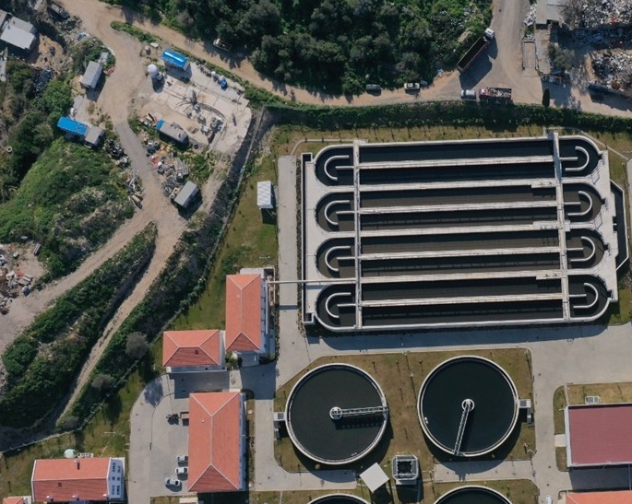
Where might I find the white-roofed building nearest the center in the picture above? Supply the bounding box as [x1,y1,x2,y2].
[257,180,274,213]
